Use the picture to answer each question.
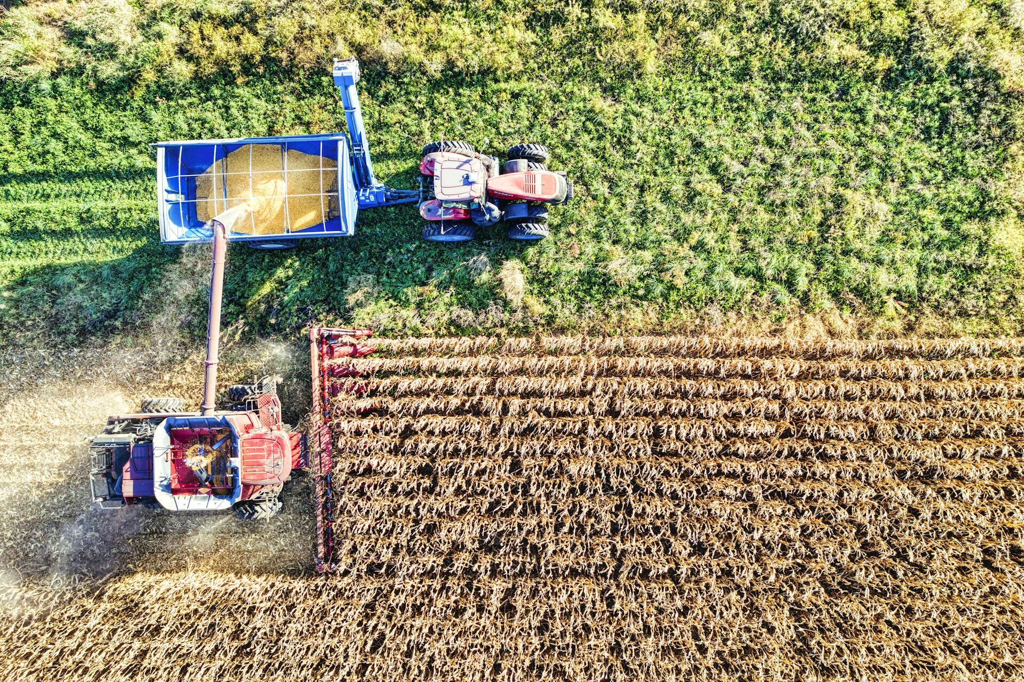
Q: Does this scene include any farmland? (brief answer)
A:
Yes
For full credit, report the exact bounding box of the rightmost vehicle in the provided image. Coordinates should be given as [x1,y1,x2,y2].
[419,135,577,243]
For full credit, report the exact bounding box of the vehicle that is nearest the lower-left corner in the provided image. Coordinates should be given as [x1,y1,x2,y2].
[83,220,393,574]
